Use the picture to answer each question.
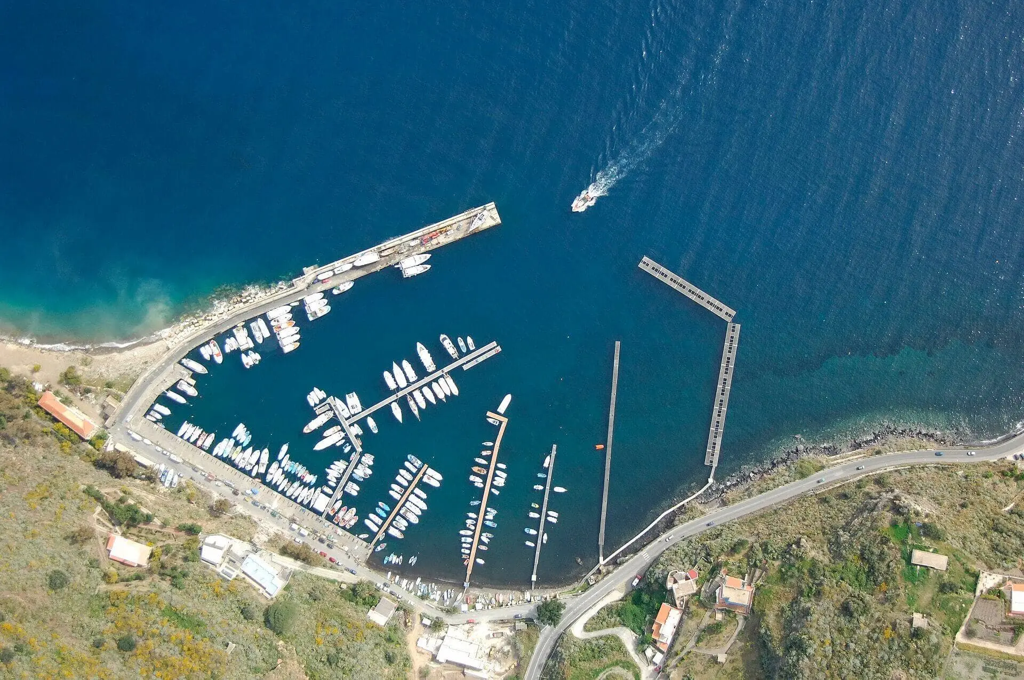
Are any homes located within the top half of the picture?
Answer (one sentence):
No, no home is visible within the top half of the picture.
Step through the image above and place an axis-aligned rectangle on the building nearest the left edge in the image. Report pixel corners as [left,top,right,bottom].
[38,391,99,439]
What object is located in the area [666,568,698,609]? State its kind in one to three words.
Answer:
house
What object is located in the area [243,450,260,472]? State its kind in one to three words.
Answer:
boat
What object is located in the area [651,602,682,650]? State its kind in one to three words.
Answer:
house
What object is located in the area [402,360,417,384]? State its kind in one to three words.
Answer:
boat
